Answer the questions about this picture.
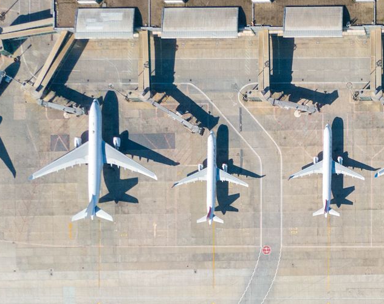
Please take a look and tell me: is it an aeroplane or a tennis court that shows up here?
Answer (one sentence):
Looking from above, you can make out an aeroplane.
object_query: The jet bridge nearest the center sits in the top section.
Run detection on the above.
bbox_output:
[149,99,206,135]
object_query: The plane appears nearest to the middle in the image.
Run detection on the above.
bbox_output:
[172,130,247,224]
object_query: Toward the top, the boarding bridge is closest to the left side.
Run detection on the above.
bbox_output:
[36,100,88,118]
